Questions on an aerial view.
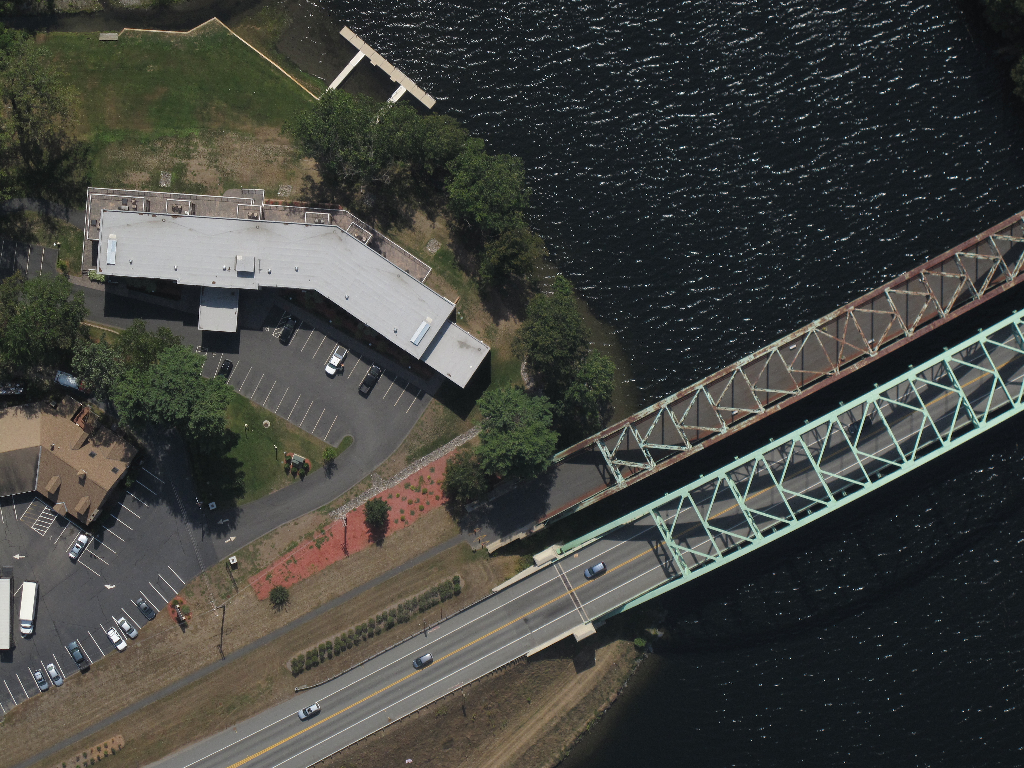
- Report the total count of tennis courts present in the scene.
0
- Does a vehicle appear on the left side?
Yes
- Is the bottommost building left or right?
left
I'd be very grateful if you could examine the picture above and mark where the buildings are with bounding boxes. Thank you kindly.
[97,209,490,384]
[0,396,139,525]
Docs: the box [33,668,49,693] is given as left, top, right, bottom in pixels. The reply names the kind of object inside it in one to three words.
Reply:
car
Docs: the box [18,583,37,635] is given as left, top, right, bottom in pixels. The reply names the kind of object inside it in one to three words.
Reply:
vehicle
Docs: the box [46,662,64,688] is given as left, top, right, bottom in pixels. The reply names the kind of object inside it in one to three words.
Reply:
car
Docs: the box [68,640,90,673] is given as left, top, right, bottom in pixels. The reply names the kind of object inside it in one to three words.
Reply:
truck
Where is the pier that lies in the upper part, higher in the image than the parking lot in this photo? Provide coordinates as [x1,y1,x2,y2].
[328,26,436,109]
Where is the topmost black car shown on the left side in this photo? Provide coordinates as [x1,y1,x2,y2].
[279,316,298,343]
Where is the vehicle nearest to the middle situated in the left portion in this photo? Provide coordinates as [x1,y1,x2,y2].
[359,364,381,394]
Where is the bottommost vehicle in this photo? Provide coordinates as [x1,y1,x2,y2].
[297,702,322,721]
